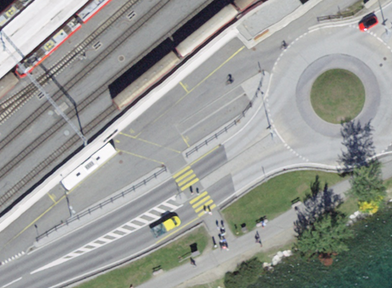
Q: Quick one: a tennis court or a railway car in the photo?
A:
railway car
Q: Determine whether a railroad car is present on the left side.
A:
Yes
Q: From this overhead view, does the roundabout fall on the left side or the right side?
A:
right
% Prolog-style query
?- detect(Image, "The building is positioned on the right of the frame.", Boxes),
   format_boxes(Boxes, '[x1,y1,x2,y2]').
[238,0,316,45]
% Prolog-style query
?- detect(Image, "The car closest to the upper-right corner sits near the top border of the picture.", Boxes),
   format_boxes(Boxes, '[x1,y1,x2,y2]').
[359,14,380,29]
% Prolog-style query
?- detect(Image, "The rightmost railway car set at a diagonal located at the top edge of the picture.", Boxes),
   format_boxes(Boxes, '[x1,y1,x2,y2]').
[175,2,239,56]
